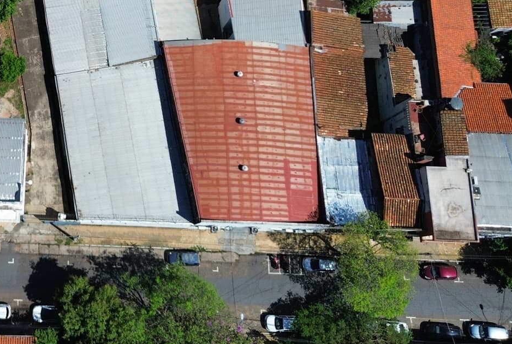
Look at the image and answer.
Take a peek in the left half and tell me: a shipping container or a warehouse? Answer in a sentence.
You can see a warehouse in the left half.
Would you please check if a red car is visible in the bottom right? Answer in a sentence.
Yes, looking in the bottom right, one can make out a red car.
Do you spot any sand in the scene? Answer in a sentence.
No, sand can't be seen anywhere here.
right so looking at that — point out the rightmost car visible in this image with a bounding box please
[465,321,506,341]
